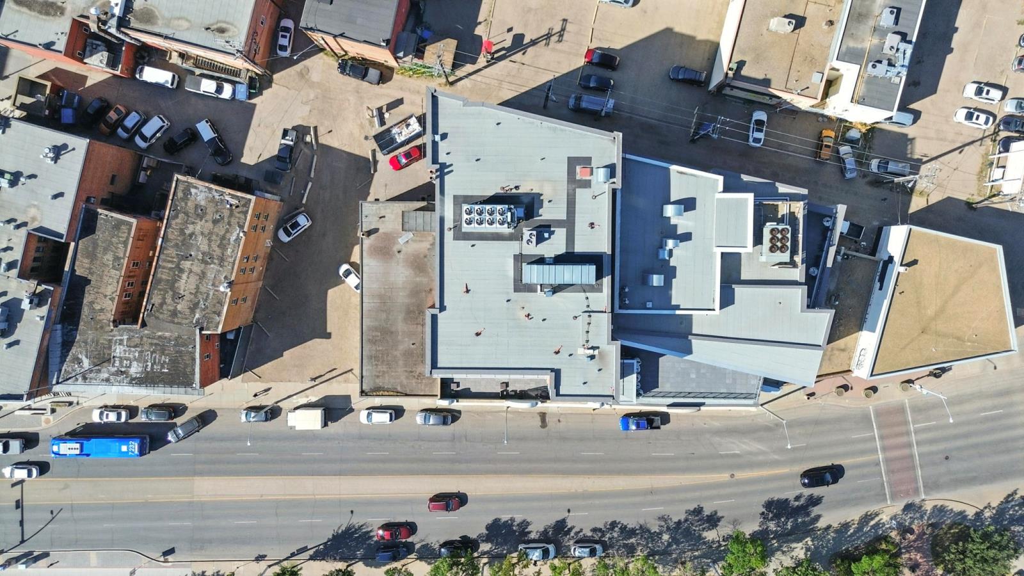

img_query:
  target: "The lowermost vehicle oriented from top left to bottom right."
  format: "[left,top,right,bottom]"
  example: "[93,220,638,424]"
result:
[337,263,360,297]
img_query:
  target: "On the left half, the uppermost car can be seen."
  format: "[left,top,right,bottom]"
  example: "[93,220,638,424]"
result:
[277,19,295,56]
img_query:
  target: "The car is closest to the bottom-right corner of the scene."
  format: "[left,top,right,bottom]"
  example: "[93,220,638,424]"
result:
[797,466,837,487]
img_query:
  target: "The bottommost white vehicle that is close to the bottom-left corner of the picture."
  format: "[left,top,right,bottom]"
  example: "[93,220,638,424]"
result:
[6,464,42,481]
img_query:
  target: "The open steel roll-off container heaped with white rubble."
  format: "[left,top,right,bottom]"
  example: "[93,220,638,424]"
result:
[372,114,422,154]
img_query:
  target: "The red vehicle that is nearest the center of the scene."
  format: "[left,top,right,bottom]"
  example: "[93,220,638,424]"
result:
[389,145,422,170]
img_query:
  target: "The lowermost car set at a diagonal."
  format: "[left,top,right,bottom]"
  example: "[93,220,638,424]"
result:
[167,415,205,444]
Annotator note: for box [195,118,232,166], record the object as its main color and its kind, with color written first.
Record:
black truck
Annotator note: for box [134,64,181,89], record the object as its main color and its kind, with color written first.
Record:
white vehicle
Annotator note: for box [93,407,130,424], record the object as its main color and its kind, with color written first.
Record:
white car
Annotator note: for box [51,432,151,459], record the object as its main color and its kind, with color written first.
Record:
blue bus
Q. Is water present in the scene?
No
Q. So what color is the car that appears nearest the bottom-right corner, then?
black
